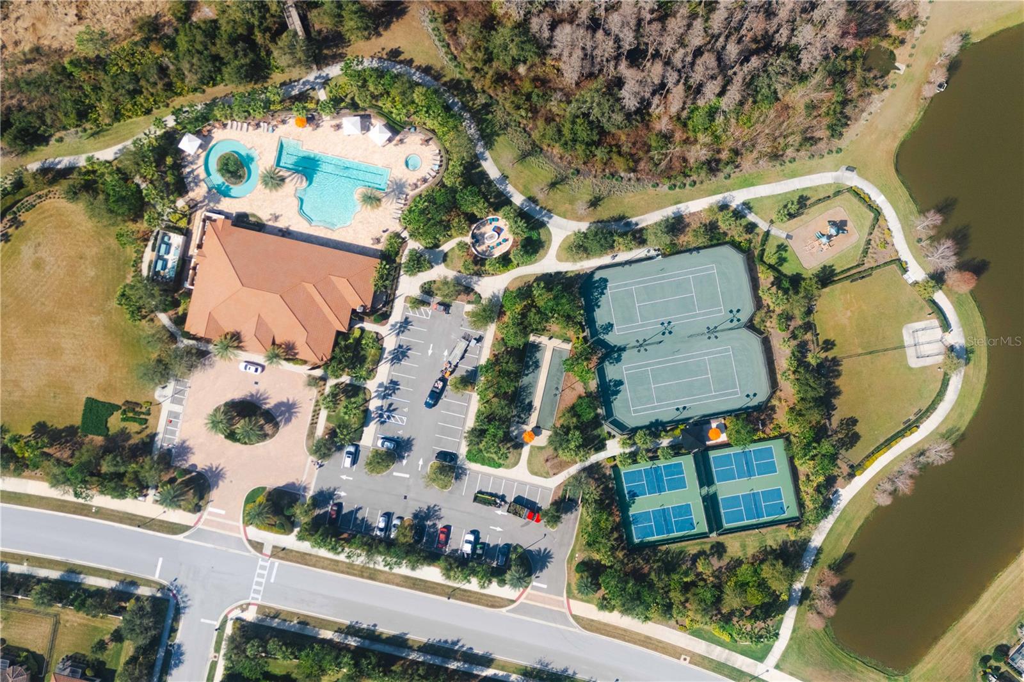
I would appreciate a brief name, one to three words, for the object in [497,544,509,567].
vehicle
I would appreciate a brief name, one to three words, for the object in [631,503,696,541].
sports court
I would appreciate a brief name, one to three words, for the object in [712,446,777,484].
sports court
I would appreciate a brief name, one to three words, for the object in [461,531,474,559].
vehicle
